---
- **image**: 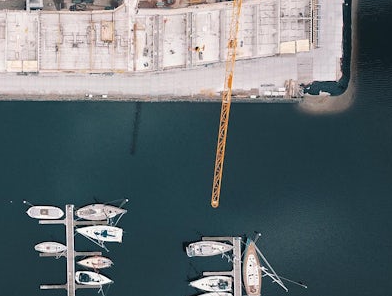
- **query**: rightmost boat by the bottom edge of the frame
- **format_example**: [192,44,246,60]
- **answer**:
[241,237,284,296]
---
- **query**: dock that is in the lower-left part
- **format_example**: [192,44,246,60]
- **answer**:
[38,204,108,296]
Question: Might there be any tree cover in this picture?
No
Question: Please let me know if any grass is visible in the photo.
No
